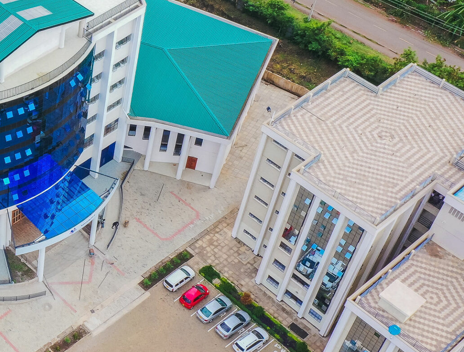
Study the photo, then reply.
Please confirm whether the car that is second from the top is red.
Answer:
Yes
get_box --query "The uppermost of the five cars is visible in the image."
[164,265,201,295]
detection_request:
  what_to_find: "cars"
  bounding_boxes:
[164,265,201,295]
[195,295,234,325]
[230,324,271,352]
[213,309,252,341]
[181,280,217,309]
